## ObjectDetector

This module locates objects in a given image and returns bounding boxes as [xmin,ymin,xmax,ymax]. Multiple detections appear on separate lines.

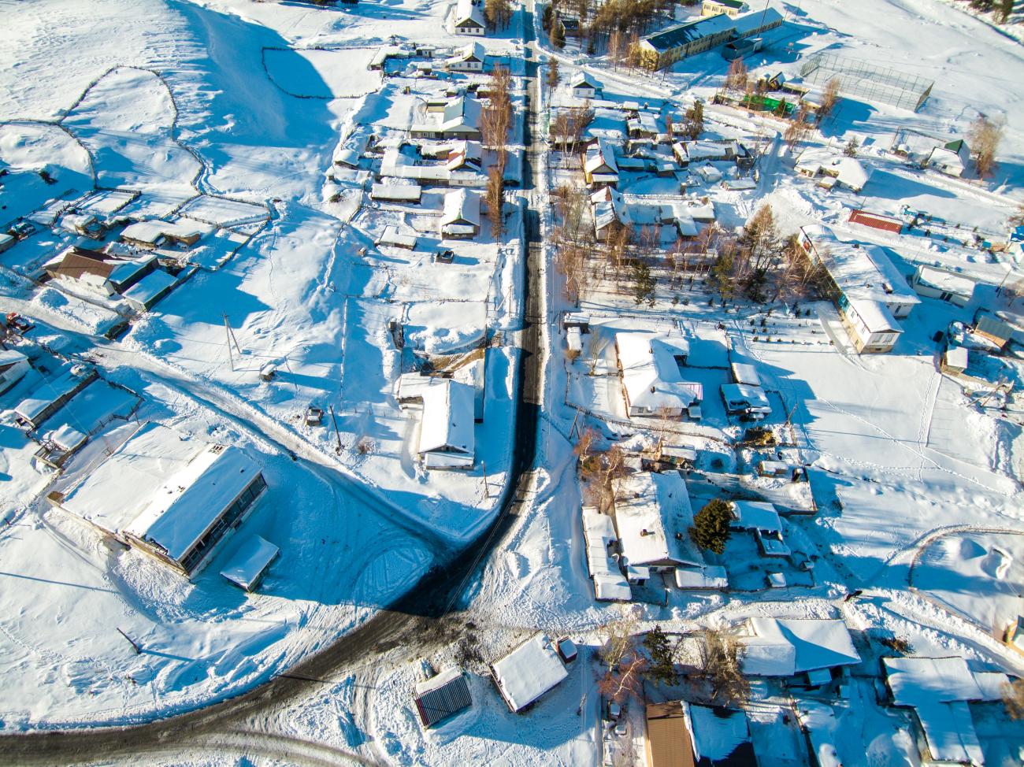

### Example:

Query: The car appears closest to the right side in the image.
[927,329,949,341]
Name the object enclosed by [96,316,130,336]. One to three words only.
vehicle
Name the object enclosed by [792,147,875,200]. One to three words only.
house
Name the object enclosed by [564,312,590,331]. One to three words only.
building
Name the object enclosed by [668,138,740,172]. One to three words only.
barn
